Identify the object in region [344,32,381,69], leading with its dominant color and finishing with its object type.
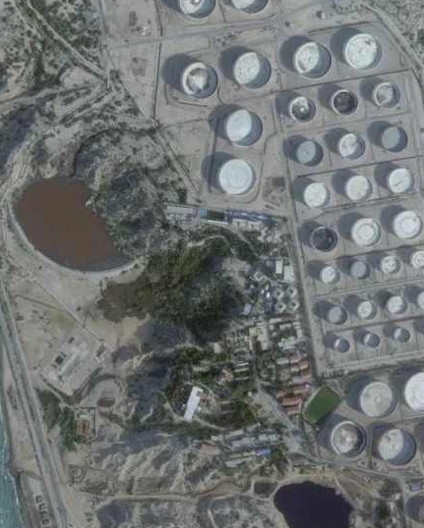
white storage tank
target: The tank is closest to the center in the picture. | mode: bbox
[219,158,255,195]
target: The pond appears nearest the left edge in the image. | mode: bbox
[17,176,133,272]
